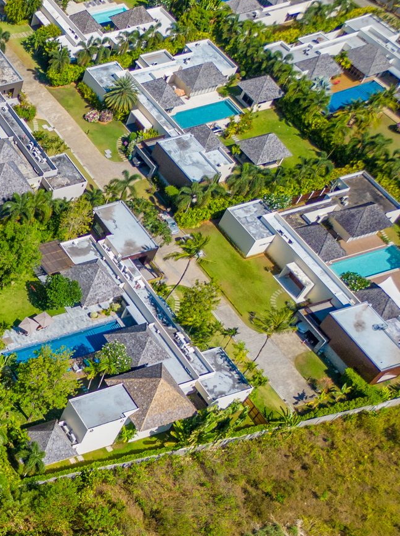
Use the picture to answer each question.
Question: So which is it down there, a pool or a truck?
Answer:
pool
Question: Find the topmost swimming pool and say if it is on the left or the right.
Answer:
left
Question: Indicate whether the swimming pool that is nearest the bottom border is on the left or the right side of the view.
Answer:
left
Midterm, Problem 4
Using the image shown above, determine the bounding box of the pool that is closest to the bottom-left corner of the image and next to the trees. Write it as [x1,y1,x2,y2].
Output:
[0,317,125,366]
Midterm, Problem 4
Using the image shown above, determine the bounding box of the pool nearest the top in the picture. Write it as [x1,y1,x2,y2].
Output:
[91,2,131,22]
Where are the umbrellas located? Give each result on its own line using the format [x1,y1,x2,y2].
[17,318,40,339]
[31,311,54,333]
